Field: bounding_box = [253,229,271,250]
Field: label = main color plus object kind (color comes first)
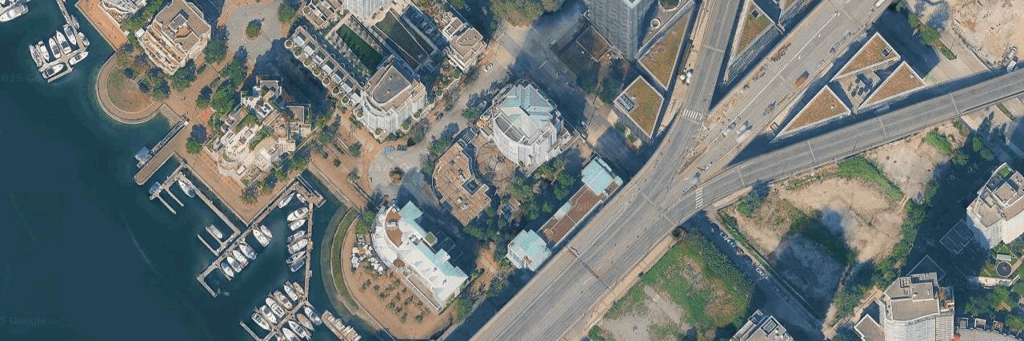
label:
white boat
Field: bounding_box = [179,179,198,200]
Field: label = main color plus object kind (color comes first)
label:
white boat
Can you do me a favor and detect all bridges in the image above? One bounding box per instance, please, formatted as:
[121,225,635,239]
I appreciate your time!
[470,0,1024,341]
